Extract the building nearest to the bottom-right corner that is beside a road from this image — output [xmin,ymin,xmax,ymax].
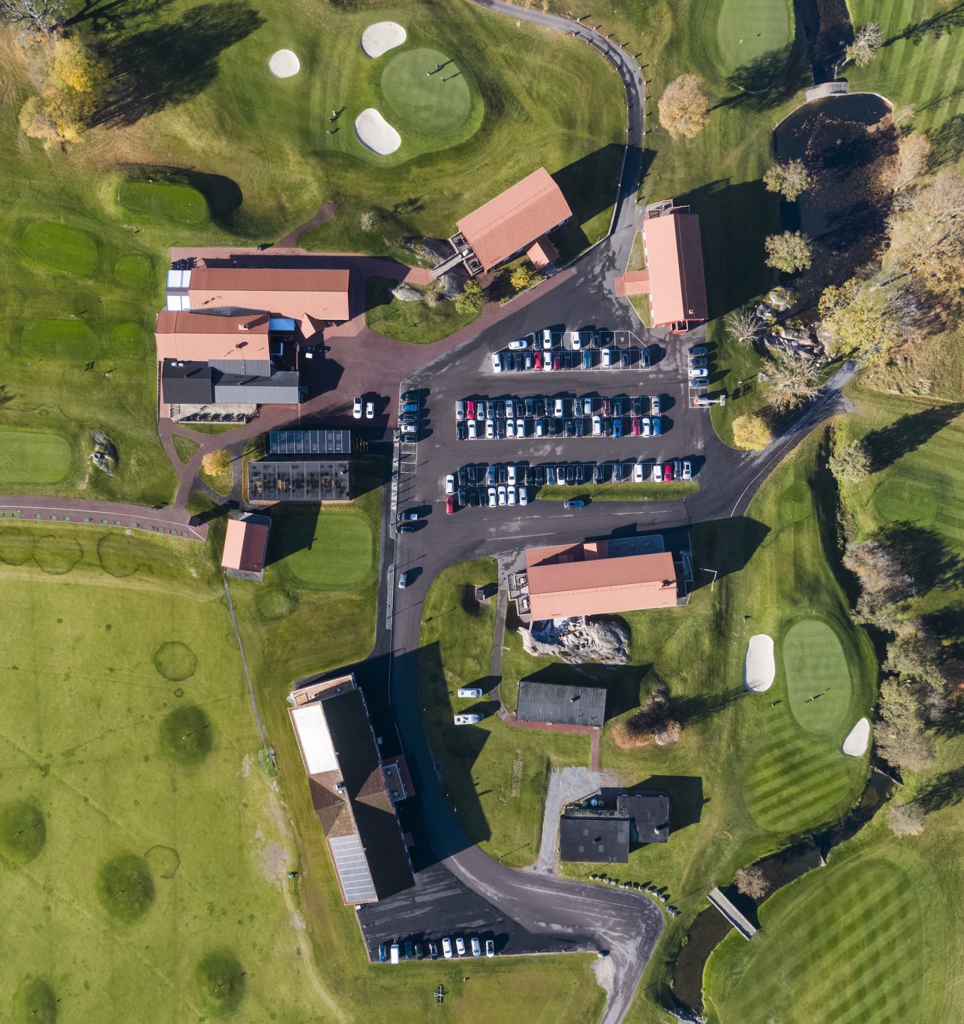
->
[560,787,670,863]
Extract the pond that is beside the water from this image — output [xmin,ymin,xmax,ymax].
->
[776,95,897,323]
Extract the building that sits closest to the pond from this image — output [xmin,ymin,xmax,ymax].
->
[623,199,709,337]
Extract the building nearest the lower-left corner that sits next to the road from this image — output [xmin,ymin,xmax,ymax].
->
[287,672,415,905]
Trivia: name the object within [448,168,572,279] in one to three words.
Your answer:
house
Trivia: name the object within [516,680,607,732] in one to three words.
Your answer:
house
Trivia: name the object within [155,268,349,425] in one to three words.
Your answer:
building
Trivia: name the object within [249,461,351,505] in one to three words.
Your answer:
shed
